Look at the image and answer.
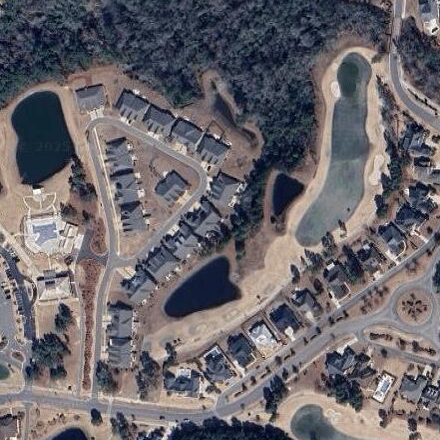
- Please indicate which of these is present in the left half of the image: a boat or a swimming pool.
swimming pool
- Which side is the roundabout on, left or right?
right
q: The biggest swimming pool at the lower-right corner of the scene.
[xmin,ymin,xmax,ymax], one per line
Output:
[376,374,393,400]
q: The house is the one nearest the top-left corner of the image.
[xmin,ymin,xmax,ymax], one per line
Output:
[76,85,106,112]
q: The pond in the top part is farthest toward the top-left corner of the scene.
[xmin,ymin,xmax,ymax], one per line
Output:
[9,88,78,188]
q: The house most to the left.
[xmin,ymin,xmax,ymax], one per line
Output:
[0,413,19,440]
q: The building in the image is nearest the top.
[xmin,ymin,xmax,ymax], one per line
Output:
[416,0,440,17]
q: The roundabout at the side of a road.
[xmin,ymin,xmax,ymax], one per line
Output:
[389,280,440,331]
